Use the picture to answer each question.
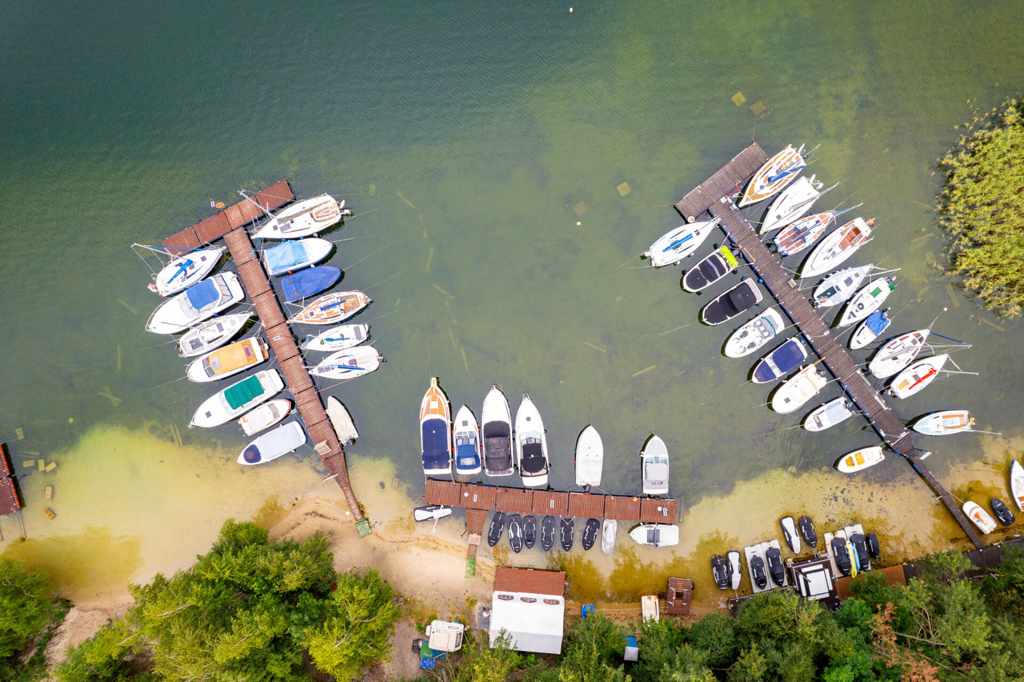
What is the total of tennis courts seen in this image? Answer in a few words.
zero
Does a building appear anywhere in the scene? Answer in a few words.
Yes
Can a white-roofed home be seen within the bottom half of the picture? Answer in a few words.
Yes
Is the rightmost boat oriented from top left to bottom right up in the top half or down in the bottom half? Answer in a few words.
bottom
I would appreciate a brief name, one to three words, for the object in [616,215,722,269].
boat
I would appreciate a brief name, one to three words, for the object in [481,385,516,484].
boat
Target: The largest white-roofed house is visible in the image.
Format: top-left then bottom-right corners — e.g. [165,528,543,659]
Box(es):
[489,566,567,656]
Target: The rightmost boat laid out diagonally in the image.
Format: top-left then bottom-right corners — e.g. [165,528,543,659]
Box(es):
[951,493,997,535]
